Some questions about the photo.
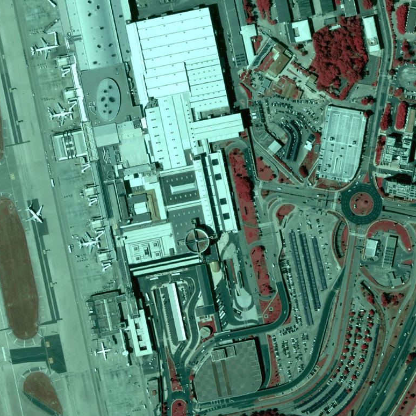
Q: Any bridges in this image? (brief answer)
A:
Yes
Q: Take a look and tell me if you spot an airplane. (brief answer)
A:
Yes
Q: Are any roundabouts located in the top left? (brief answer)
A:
No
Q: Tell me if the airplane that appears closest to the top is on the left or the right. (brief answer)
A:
left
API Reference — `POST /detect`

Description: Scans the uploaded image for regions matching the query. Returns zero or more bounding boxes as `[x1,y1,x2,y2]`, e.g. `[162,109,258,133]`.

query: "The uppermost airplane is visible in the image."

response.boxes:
[31,38,59,60]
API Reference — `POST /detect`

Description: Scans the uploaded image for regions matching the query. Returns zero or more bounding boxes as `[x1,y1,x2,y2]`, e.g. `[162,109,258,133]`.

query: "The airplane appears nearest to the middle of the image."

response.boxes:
[79,233,100,255]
